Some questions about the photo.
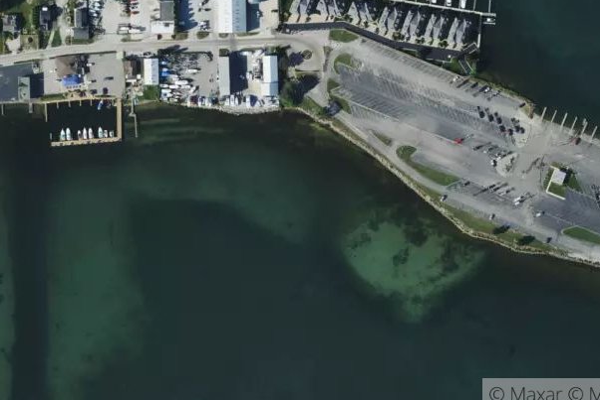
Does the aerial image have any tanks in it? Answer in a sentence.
No, the frame has no tank in it.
